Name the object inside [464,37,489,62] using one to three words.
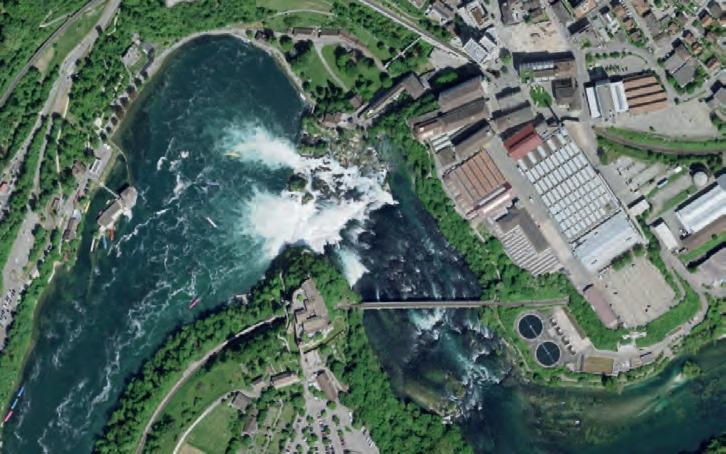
building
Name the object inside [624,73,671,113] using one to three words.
building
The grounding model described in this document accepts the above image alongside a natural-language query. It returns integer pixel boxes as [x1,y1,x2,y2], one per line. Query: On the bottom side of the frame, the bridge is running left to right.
[340,297,569,310]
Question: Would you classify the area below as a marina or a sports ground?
marina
